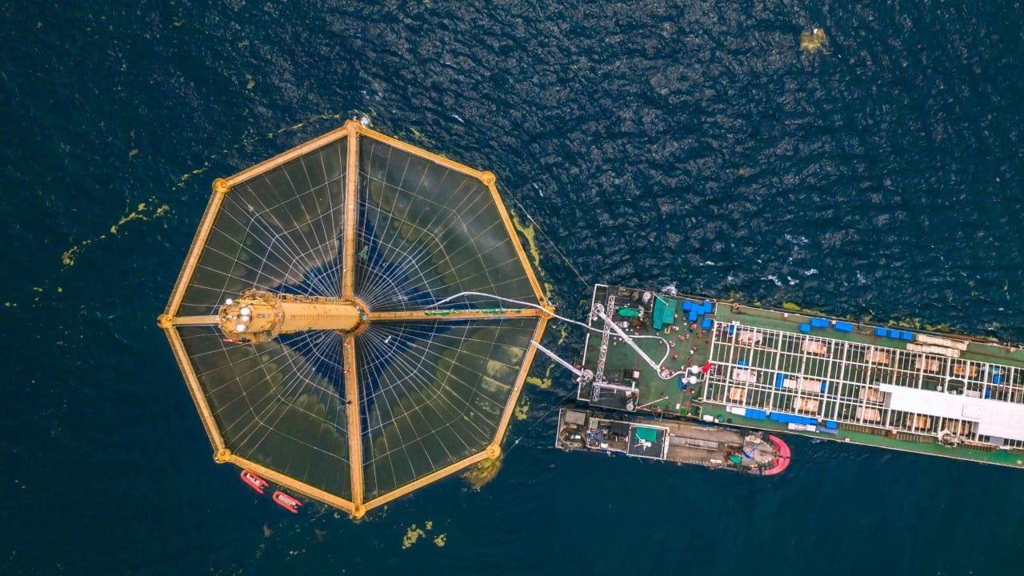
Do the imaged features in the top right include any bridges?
No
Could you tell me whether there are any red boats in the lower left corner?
Yes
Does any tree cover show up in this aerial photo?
No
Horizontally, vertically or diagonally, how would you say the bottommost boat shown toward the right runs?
horizontally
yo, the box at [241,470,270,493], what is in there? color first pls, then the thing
red boat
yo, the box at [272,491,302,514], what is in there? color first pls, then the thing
red boat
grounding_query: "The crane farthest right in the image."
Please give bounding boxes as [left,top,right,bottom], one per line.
[593,303,661,373]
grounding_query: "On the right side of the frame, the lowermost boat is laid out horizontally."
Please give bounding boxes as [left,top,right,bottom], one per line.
[555,409,792,473]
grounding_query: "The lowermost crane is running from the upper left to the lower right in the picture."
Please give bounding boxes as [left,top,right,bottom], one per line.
[531,340,597,384]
